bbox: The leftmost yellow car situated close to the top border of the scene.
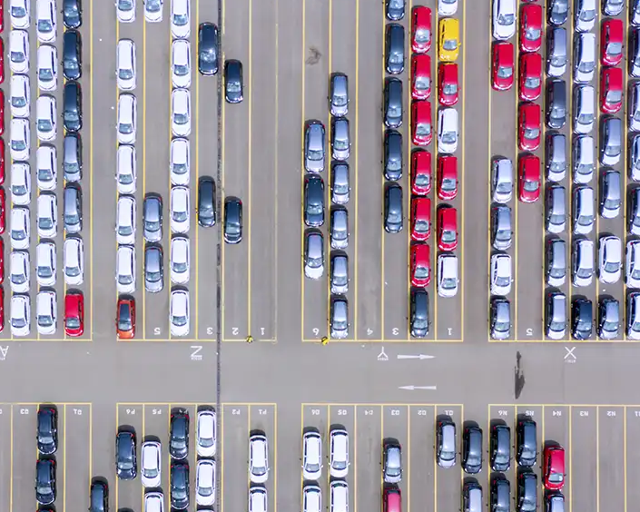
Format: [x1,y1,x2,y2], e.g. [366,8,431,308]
[437,17,461,62]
